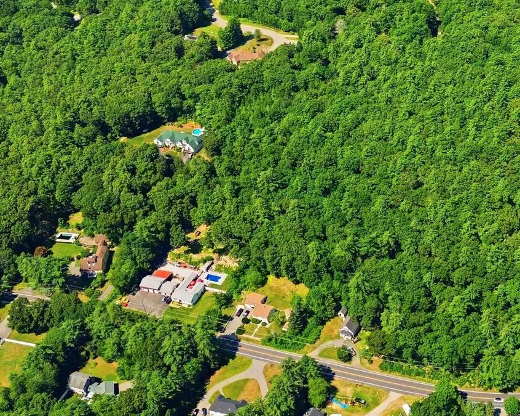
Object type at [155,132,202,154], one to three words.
building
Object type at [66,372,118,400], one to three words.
house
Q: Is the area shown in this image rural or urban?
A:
rural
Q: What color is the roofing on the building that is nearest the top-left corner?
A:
green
